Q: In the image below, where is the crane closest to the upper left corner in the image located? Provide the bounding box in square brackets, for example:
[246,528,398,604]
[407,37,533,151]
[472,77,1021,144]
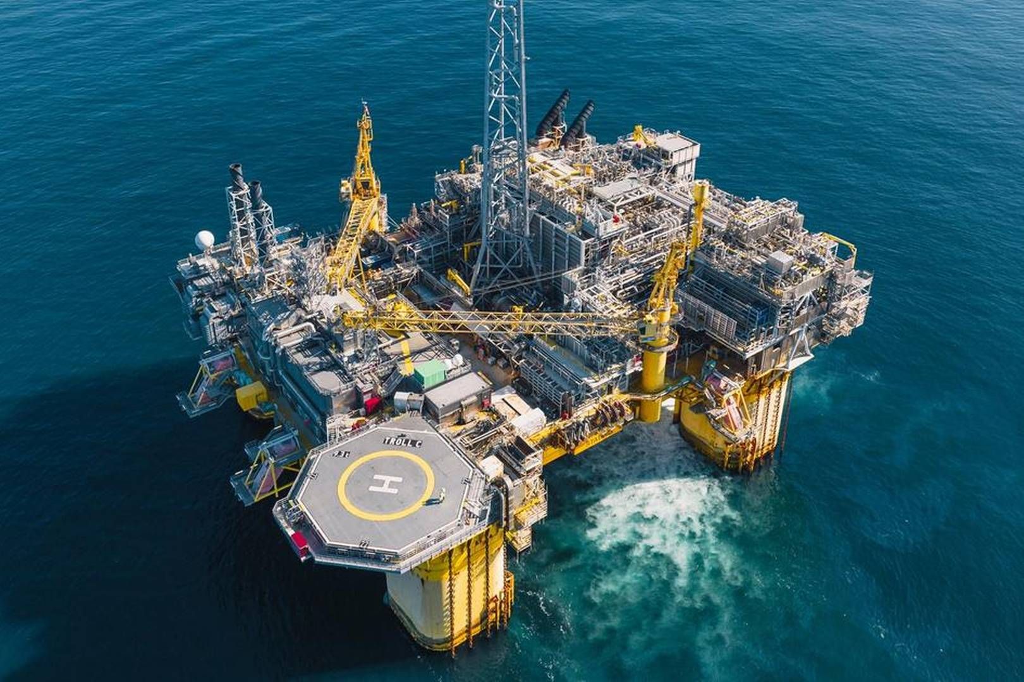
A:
[327,103,396,305]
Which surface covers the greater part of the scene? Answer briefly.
water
